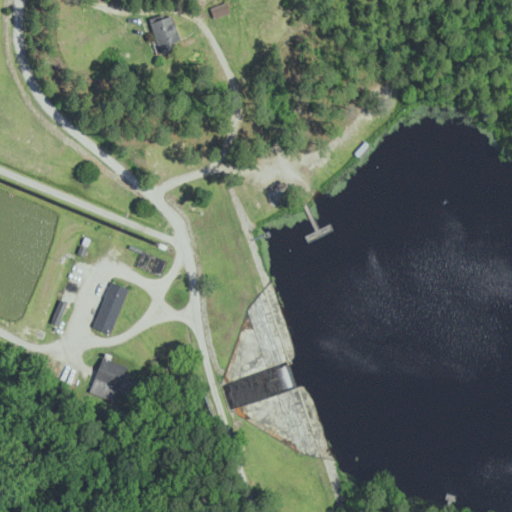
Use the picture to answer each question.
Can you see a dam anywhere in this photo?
Yes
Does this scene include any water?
Yes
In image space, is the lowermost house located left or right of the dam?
left of it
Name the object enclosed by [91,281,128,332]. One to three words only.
building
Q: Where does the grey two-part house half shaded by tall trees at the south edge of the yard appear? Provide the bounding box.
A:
[86,356,127,400]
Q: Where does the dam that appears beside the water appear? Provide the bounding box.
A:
[223,283,331,458]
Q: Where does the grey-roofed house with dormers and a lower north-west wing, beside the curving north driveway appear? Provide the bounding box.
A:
[146,14,181,51]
